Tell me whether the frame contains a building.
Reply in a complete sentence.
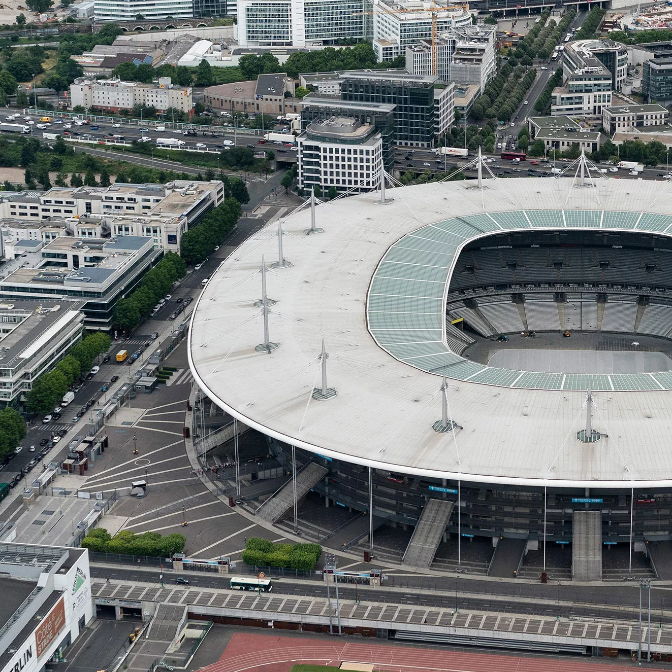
Yes, a building can be made out from above.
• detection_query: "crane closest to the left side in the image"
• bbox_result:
[350,0,472,76]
